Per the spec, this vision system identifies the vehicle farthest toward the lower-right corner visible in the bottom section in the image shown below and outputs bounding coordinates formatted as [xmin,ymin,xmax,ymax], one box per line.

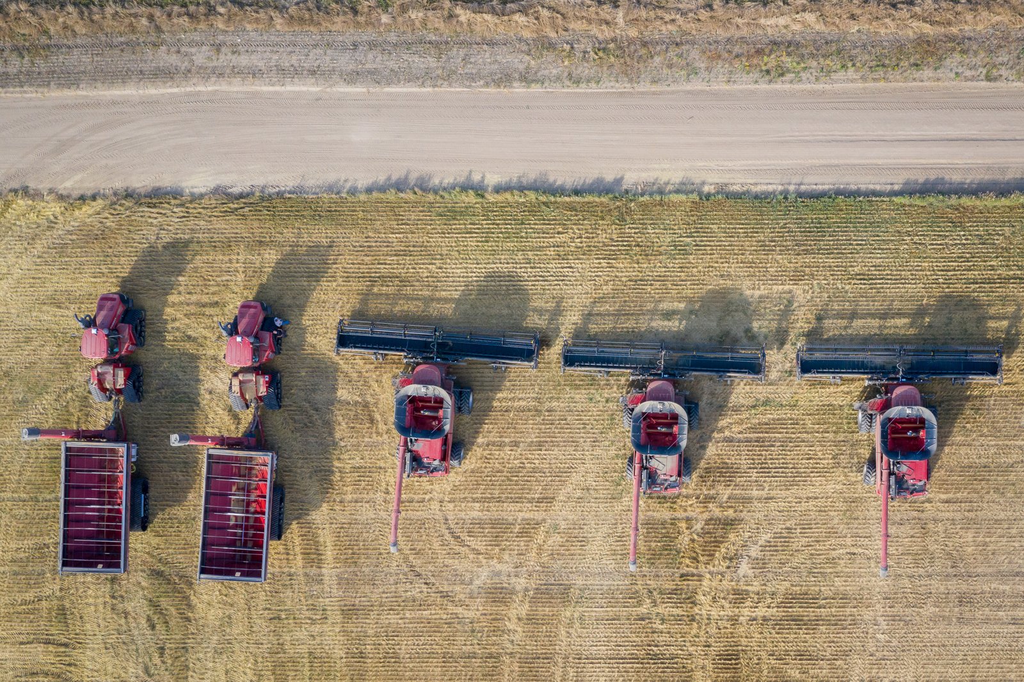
[795,342,1004,575]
